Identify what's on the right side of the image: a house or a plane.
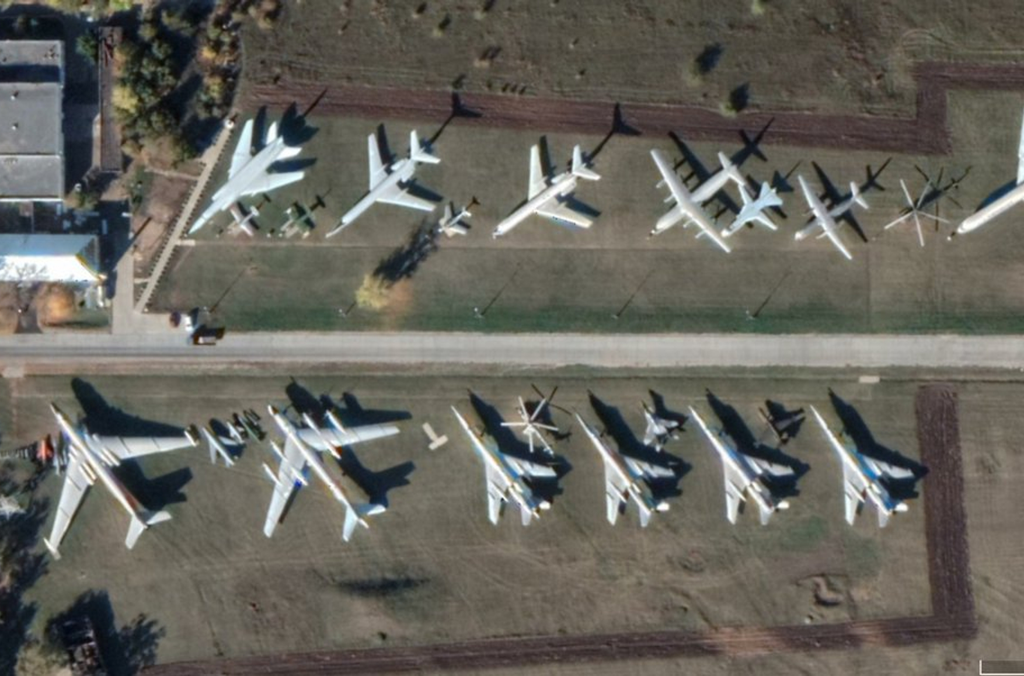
plane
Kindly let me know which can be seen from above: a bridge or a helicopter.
helicopter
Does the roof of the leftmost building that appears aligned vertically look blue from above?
No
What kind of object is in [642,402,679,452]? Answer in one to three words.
airplane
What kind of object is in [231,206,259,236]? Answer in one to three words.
airplane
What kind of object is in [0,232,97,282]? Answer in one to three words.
house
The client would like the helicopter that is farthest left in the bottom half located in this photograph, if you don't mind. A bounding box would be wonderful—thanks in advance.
[501,397,559,460]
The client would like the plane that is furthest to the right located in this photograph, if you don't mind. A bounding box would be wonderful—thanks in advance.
[957,121,1024,232]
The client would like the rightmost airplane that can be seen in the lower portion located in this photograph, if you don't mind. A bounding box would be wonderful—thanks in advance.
[810,405,915,527]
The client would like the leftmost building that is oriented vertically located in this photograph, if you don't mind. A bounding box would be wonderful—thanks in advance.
[0,39,65,200]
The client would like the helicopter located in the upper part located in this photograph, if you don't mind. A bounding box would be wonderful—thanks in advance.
[885,172,963,246]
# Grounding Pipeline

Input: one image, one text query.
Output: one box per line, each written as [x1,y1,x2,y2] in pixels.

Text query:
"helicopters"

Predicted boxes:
[885,172,963,246]
[501,397,559,460]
